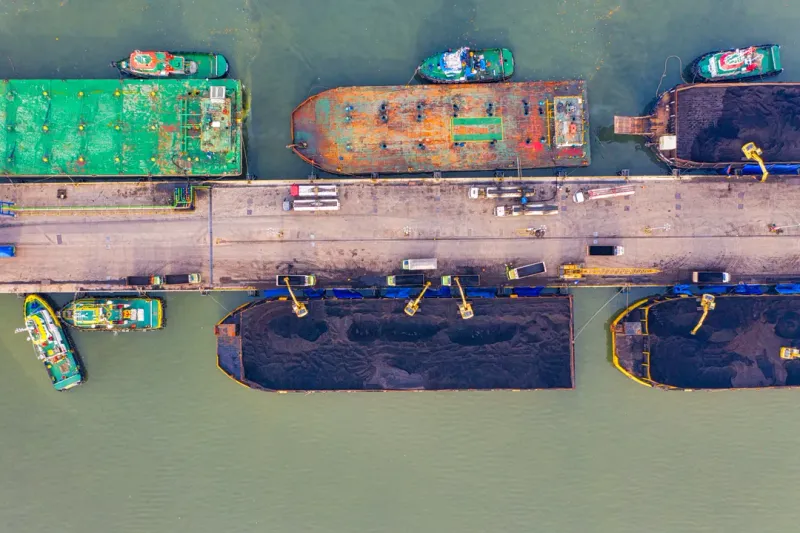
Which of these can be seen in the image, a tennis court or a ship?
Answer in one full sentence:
Visible in the photo is a ship.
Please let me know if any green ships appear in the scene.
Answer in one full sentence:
Yes, a green ship appears in the view.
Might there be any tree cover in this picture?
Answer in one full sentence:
No, there is no tree cover in the image.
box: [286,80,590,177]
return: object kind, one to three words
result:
ship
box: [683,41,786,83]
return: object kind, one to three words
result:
boat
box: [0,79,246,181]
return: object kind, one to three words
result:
ship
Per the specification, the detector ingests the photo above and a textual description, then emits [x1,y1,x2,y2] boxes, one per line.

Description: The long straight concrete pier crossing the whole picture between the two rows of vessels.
[0,173,800,297]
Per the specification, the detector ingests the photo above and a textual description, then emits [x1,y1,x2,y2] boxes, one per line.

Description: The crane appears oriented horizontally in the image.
[556,263,662,280]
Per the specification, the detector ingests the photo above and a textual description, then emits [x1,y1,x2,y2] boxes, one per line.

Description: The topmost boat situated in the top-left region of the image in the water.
[109,50,232,79]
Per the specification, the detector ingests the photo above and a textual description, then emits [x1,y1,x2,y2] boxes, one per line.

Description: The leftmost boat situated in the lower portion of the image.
[12,292,87,390]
